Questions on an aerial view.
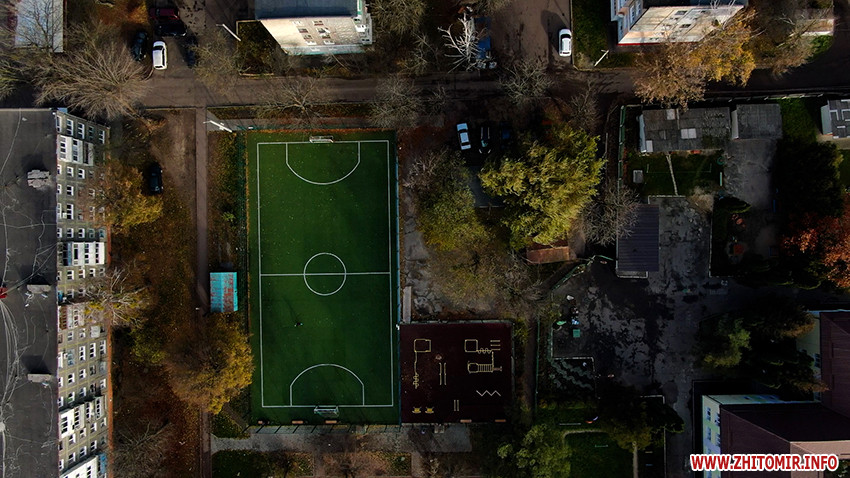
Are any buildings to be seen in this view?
Yes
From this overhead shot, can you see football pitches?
Yes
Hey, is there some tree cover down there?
Yes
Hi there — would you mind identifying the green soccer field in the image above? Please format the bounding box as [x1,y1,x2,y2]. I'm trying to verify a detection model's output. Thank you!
[247,129,400,425]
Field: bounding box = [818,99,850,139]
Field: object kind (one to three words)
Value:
building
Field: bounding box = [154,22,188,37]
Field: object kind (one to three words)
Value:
car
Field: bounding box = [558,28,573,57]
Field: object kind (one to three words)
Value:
car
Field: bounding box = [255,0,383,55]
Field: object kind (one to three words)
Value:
building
